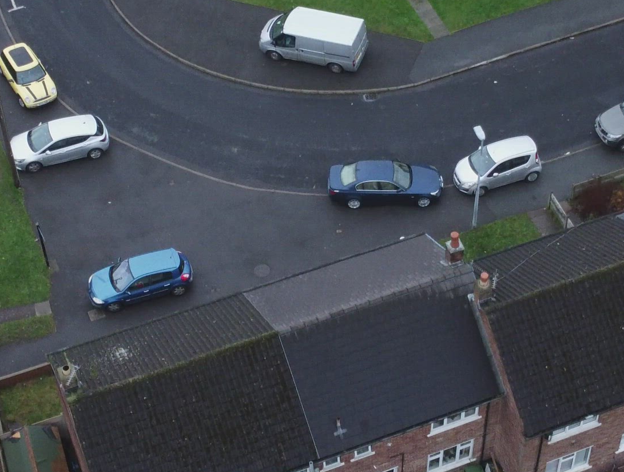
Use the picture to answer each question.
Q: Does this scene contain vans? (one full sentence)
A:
Yes, a van is visible in the scene.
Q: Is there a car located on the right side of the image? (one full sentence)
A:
Yes, looking on the right side of the image, one can make out a car.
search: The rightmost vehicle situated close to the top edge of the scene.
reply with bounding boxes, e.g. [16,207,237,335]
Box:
[258,6,371,74]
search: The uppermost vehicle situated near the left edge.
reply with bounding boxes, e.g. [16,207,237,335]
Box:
[0,39,59,112]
